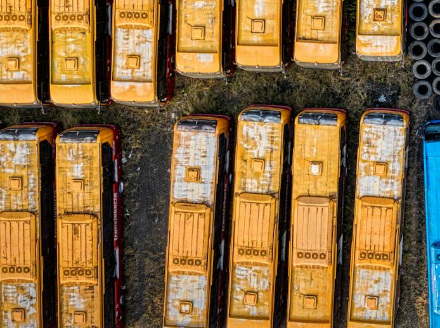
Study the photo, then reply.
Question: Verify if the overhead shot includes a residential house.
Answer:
No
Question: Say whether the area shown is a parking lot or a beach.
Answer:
parking lot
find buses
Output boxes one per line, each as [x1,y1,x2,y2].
[288,102,348,328]
[346,102,410,328]
[56,120,128,328]
[112,0,177,115]
[419,120,440,328]
[235,0,294,79]
[227,101,292,328]
[49,0,114,116]
[176,0,236,86]
[0,120,64,328]
[354,0,406,71]
[292,0,350,78]
[164,109,233,328]
[0,0,54,116]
